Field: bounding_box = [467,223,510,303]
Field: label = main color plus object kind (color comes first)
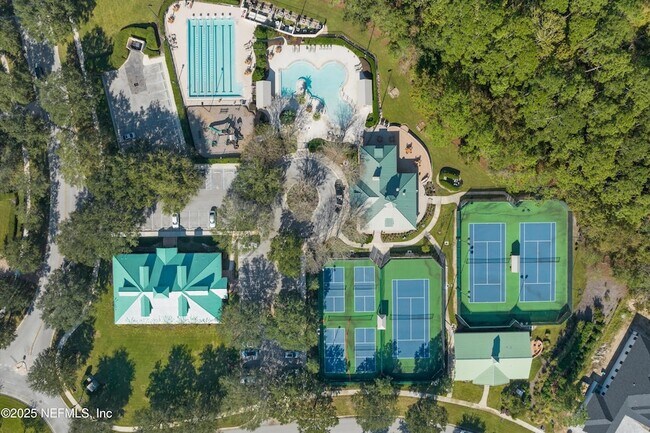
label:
blue tennis court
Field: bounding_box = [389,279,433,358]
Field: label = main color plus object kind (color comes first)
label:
blue tennis court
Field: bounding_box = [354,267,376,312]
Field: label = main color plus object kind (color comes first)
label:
blue sports court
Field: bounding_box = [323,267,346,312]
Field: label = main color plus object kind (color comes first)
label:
blue sports court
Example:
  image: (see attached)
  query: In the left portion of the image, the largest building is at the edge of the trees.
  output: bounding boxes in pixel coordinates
[114,248,229,324]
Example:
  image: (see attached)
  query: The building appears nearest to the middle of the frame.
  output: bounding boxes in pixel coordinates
[350,145,417,230]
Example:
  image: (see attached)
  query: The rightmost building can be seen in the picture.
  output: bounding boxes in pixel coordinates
[581,330,650,433]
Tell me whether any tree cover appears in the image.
Yes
